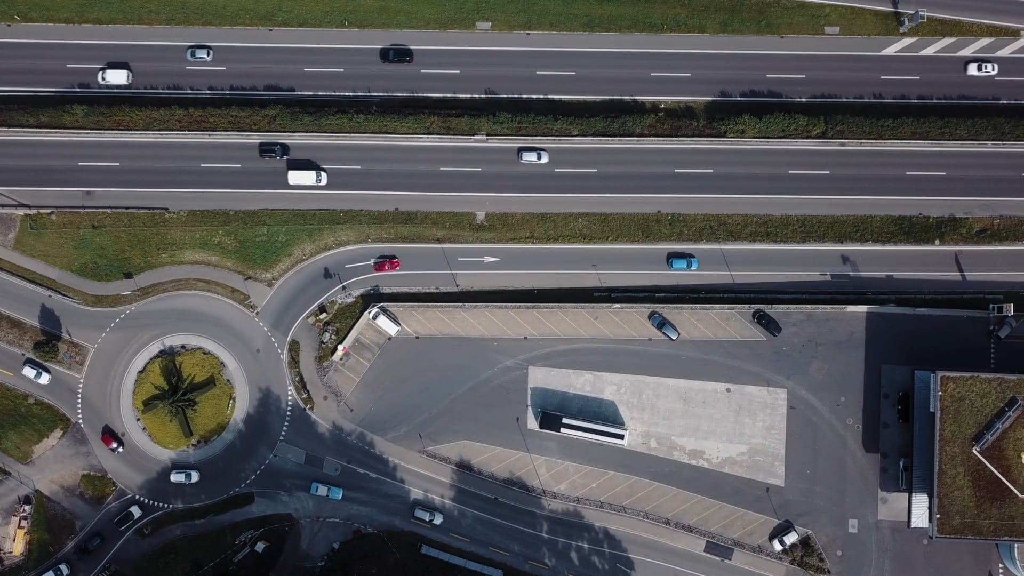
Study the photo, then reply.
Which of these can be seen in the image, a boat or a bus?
bus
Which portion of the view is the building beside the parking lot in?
bottom right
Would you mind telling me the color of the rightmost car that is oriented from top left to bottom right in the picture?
black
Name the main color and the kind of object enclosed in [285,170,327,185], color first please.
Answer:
white vehicle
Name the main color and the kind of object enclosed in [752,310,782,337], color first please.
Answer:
black car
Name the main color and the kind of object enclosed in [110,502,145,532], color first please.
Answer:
black truck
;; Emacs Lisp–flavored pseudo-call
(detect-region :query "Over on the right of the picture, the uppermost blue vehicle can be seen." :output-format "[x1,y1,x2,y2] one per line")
[669,256,697,271]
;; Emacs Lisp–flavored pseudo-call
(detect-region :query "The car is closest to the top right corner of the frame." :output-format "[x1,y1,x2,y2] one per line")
[966,61,997,76]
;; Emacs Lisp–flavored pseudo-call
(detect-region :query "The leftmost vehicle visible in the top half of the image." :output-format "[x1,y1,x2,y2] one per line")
[98,68,133,84]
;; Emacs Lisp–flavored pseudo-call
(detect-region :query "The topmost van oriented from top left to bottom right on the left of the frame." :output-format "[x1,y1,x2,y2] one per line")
[368,307,403,339]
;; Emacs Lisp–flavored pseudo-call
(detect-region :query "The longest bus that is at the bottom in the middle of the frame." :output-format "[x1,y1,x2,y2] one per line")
[534,406,629,445]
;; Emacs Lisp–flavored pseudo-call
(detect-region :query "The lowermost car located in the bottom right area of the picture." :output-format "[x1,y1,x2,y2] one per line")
[770,525,800,549]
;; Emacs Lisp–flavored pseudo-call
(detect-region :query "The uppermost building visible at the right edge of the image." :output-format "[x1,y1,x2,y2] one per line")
[922,364,1024,543]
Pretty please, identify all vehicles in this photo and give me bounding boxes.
[534,406,629,445]
[20,363,53,384]
[368,307,403,339]
[519,149,549,163]
[110,502,145,532]
[101,431,124,455]
[259,144,290,159]
[770,525,800,549]
[310,482,343,499]
[285,170,327,185]
[669,256,697,271]
[411,505,443,525]
[186,46,214,61]
[381,47,413,63]
[752,310,782,337]
[170,469,201,484]
[98,68,133,84]
[373,258,401,271]
[650,312,679,340]
[39,560,72,576]
[966,61,997,76]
